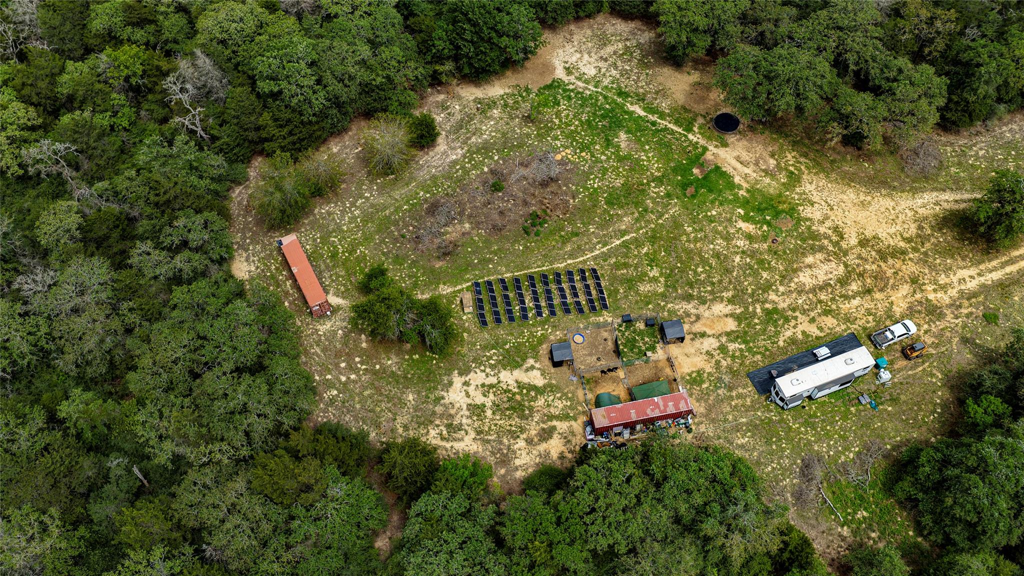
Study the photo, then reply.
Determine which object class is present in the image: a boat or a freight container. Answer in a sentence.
There is a freight container in the scene.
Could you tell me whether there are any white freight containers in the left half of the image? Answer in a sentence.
No, in the left half of the image there is no white freight container.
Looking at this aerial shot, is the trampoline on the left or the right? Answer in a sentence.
It is on the right.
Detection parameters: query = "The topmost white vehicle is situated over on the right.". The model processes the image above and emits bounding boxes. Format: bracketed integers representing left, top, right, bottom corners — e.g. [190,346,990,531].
[869,323,918,348]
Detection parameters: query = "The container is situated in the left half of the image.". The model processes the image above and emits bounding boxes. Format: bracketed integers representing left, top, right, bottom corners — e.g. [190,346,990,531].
[279,234,331,318]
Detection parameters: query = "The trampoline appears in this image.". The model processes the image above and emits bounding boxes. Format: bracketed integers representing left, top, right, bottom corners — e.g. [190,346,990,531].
[711,113,740,135]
